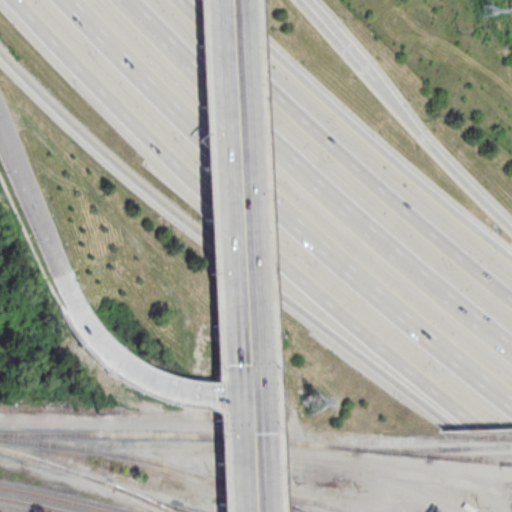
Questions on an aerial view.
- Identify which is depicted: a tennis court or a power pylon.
power pylon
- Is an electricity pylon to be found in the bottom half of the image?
Yes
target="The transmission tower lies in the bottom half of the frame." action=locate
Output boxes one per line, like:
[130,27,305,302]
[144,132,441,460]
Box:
[296,389,343,418]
